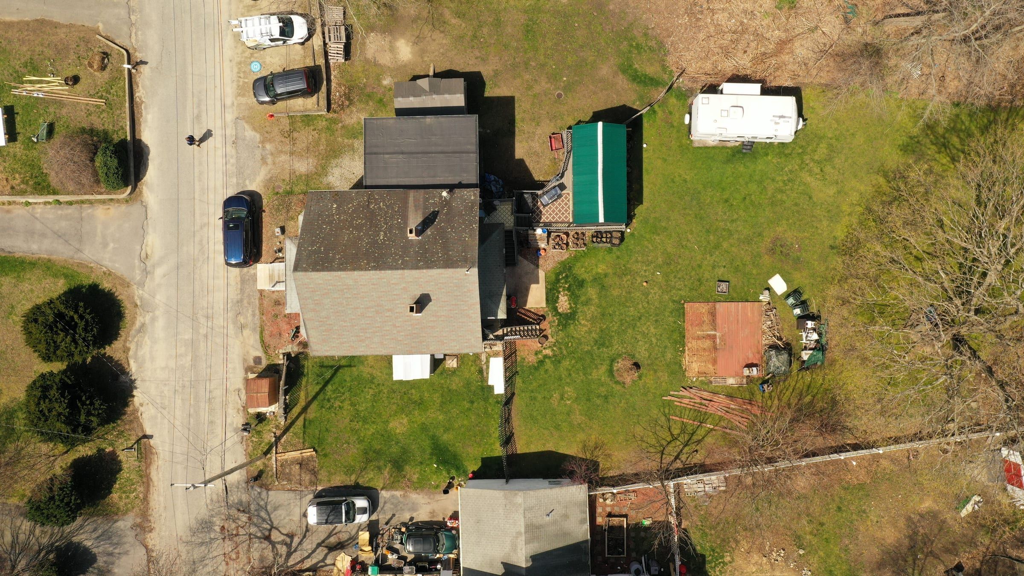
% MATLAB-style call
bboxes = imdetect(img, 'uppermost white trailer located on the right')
[684,83,805,144]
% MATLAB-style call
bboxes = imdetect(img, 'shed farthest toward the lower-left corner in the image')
[246,370,283,414]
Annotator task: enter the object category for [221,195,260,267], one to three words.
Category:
car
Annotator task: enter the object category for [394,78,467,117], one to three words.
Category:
shed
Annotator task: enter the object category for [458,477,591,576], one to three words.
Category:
building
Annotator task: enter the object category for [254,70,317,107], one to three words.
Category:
car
